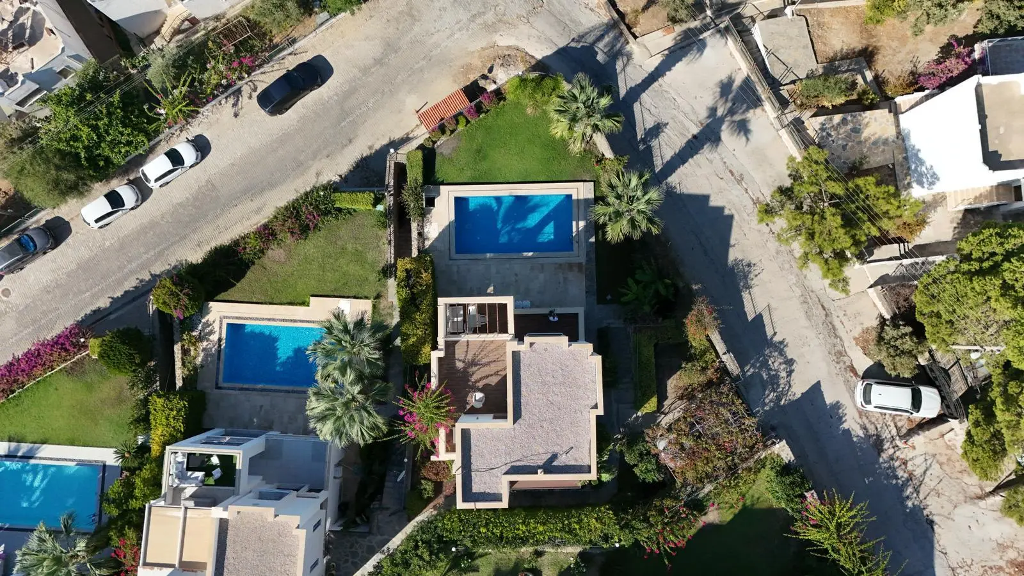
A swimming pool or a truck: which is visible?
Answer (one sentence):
The image shows a swimming pool.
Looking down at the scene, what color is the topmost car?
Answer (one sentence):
The topmost car looks black in the image.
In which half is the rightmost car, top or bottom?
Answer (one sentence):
You can find the rightmost car in the bottom half.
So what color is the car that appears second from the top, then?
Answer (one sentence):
The color of the car that appears second from the top is white.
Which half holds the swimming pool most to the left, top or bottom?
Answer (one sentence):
You can find the swimming pool most to the left in the bottom half.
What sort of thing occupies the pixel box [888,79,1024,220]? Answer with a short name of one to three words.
house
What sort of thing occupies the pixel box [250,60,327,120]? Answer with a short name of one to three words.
car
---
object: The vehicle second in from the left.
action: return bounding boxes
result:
[74,181,147,232]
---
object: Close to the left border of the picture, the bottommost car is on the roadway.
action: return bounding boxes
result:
[0,224,62,282]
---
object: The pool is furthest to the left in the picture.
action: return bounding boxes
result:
[0,440,126,553]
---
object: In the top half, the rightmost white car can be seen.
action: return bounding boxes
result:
[134,139,206,192]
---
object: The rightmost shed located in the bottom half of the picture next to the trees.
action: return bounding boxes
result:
[926,345,969,399]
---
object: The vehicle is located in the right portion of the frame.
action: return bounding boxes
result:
[856,378,938,420]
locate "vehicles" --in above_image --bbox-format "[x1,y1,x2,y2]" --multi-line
[250,60,327,120]
[74,181,147,232]
[0,224,62,282]
[856,378,938,420]
[134,139,206,192]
